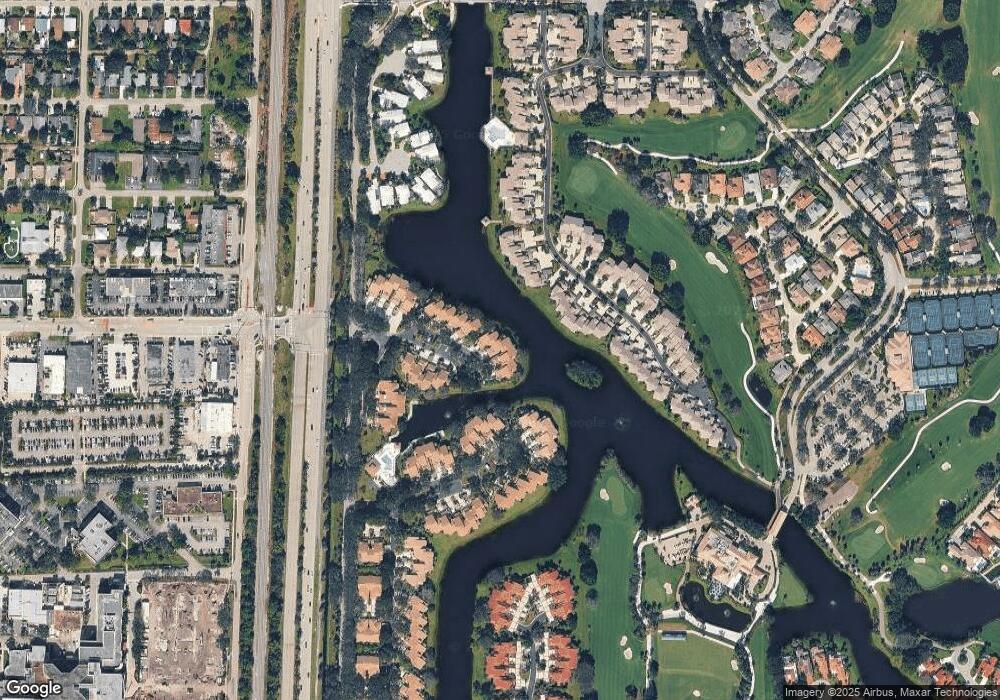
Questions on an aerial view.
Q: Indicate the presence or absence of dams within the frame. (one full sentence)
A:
No, I find no dam anywhere in the image.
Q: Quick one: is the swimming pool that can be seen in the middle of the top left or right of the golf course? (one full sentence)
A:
The swimming pool that can be seen in the middle of the top appears to the left of the golf course in this view.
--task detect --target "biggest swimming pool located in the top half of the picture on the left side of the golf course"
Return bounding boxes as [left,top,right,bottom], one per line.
[483,117,514,149]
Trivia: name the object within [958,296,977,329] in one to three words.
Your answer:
tennis court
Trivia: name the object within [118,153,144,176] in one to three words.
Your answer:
building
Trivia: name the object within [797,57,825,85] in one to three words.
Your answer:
house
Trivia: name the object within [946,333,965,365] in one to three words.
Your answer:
tennis court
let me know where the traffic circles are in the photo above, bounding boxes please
[951,647,985,700]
